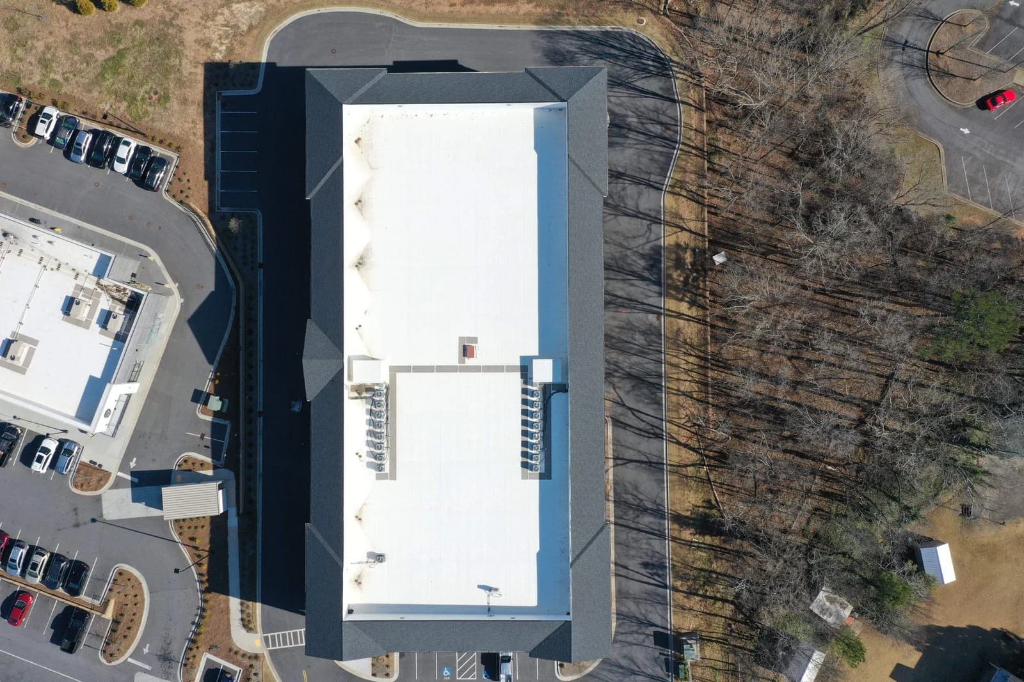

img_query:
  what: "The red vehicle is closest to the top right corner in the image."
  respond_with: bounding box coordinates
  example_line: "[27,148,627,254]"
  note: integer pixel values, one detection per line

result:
[981,88,1015,112]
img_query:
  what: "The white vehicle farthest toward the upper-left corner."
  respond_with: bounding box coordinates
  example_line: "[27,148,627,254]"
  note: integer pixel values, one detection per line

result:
[35,106,60,139]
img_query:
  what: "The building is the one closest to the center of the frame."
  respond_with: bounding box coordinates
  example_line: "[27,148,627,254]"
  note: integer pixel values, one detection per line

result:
[301,67,609,661]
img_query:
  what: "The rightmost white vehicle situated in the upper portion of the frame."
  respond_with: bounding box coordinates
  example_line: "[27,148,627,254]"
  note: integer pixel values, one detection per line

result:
[113,137,137,173]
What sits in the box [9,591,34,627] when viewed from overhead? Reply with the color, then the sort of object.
red car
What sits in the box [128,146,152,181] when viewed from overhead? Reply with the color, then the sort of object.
black car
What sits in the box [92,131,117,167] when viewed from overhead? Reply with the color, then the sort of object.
black car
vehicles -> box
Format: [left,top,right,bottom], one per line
[45,553,69,589]
[9,591,34,627]
[0,533,14,568]
[113,137,137,173]
[0,92,19,128]
[6,541,30,574]
[981,88,1015,112]
[57,439,81,474]
[128,146,152,181]
[65,560,90,596]
[60,610,91,654]
[27,550,51,583]
[92,131,117,167]
[0,425,23,469]
[498,653,514,682]
[32,439,58,473]
[70,128,94,164]
[55,116,80,151]
[143,156,169,192]
[35,106,60,139]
